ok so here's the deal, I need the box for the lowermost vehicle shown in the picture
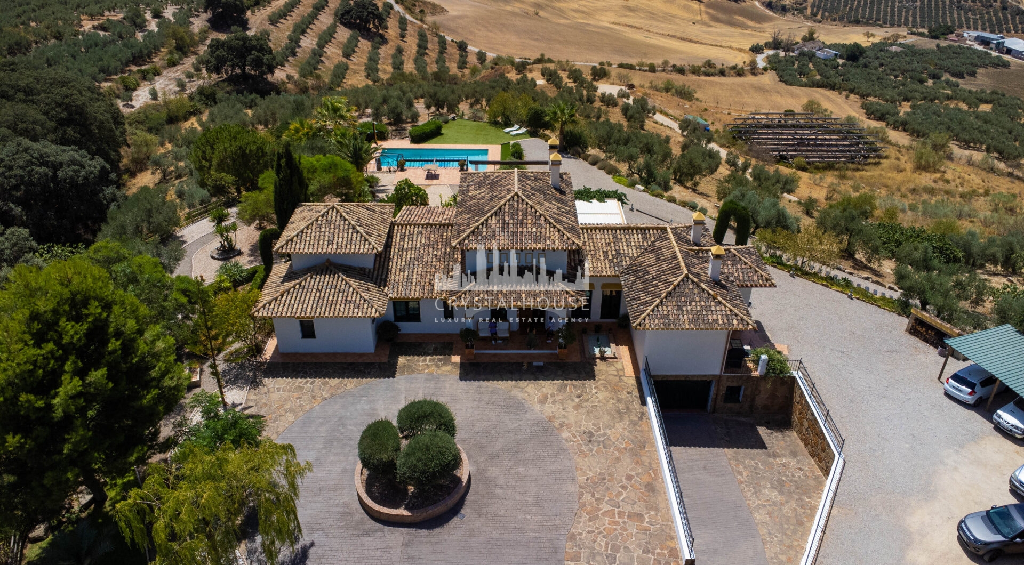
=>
[954,490,1024,557]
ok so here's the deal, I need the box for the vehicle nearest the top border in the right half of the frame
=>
[947,362,1007,407]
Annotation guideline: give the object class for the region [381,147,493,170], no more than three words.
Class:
swimming pool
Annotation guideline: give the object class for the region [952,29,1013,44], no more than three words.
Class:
barn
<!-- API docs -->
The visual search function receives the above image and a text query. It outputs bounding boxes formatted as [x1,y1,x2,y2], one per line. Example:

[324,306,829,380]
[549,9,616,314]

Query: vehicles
[1011,456,1024,490]
[988,390,1024,438]
[947,362,1007,407]
[954,490,1024,557]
